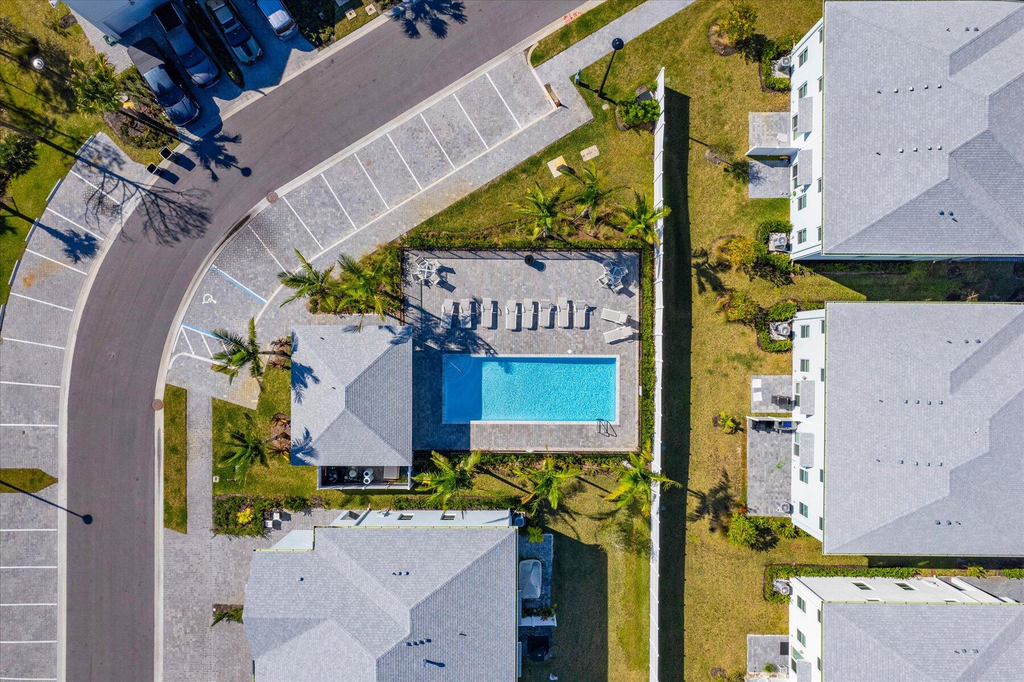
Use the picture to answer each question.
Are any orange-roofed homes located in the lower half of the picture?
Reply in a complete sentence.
No, there is no orange-roofed home in the lower half of the picture.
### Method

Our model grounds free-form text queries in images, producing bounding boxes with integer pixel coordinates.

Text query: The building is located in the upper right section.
[791,0,1024,260]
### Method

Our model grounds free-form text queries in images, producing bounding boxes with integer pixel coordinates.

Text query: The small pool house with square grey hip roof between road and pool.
[290,324,413,468]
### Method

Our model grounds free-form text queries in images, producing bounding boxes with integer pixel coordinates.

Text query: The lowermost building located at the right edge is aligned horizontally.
[789,575,1024,682]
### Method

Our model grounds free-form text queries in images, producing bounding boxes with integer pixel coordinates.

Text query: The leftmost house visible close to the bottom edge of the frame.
[240,508,523,682]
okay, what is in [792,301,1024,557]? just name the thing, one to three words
house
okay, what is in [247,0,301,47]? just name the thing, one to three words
car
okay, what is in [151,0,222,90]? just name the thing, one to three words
truck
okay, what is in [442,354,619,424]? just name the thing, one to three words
swimming pool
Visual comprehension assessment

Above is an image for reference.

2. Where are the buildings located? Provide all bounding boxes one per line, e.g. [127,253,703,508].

[290,324,413,468]
[59,0,184,39]
[792,301,1024,557]
[240,508,523,682]
[789,575,1024,682]
[791,0,1024,260]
